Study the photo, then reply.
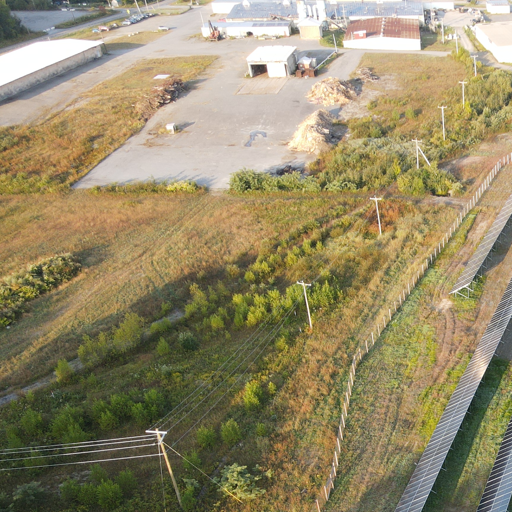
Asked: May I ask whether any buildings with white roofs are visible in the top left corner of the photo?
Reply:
Yes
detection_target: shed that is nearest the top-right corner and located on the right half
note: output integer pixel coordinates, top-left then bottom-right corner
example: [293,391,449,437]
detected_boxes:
[483,0,510,14]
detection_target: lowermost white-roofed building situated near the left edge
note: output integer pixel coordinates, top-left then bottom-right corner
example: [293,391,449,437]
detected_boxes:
[0,38,102,103]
